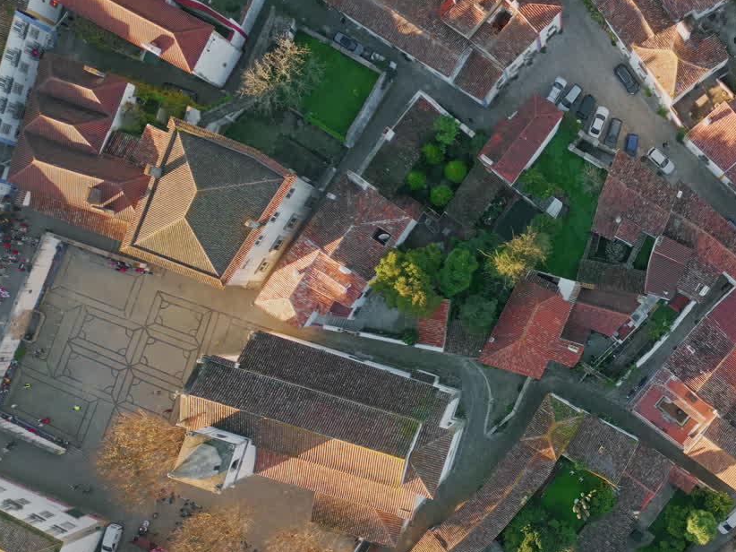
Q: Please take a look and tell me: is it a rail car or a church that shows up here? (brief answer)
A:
church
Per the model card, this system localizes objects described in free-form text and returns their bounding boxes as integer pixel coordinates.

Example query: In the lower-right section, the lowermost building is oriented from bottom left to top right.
[581,480,654,552]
